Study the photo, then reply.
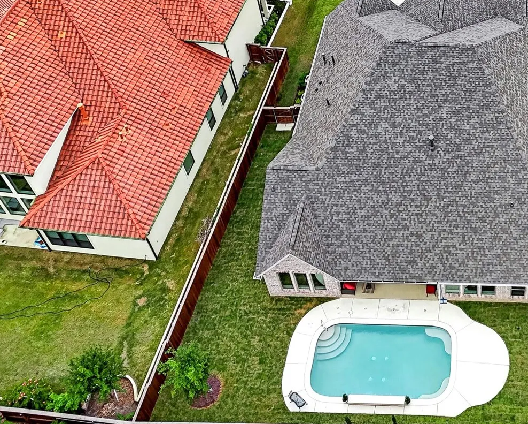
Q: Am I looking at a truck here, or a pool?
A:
pool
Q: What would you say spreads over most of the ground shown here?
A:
buildings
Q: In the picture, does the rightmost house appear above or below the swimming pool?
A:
above it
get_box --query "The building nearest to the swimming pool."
[252,0,528,309]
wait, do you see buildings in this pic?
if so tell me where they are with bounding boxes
[252,0,528,309]
[0,0,278,262]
